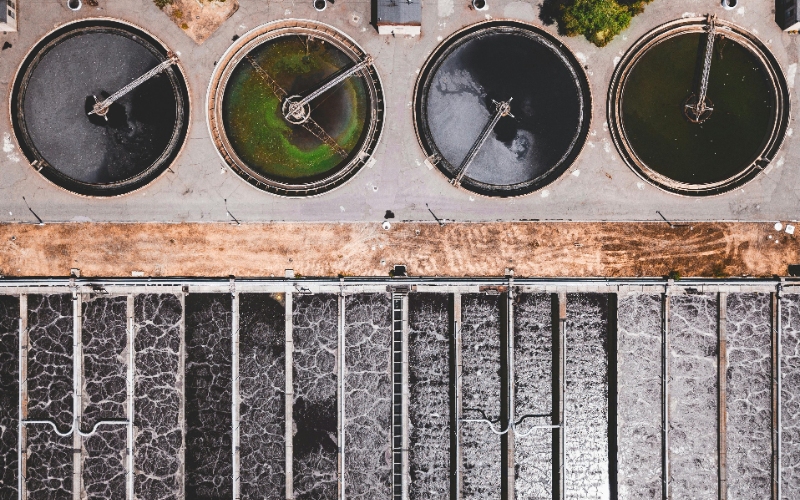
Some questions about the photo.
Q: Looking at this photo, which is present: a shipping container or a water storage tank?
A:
water storage tank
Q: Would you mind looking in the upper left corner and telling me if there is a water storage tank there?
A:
Yes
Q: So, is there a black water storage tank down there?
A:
Yes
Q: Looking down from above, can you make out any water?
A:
Yes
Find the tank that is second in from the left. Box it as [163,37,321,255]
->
[205,18,386,198]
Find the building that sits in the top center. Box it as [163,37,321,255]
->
[377,0,423,34]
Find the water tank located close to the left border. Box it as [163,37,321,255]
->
[10,17,191,197]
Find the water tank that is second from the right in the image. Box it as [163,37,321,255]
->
[412,18,593,198]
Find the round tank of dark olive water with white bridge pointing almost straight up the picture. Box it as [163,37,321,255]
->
[607,16,789,198]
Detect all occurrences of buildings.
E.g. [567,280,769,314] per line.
[0,0,17,31]
[377,0,423,34]
[783,0,800,30]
